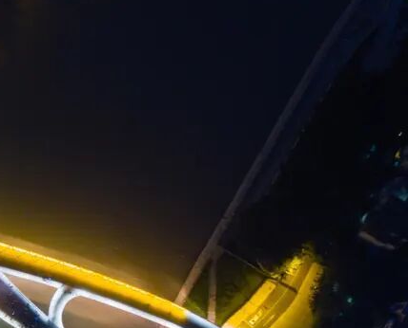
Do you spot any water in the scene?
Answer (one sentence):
Yes, the picture does contain water.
